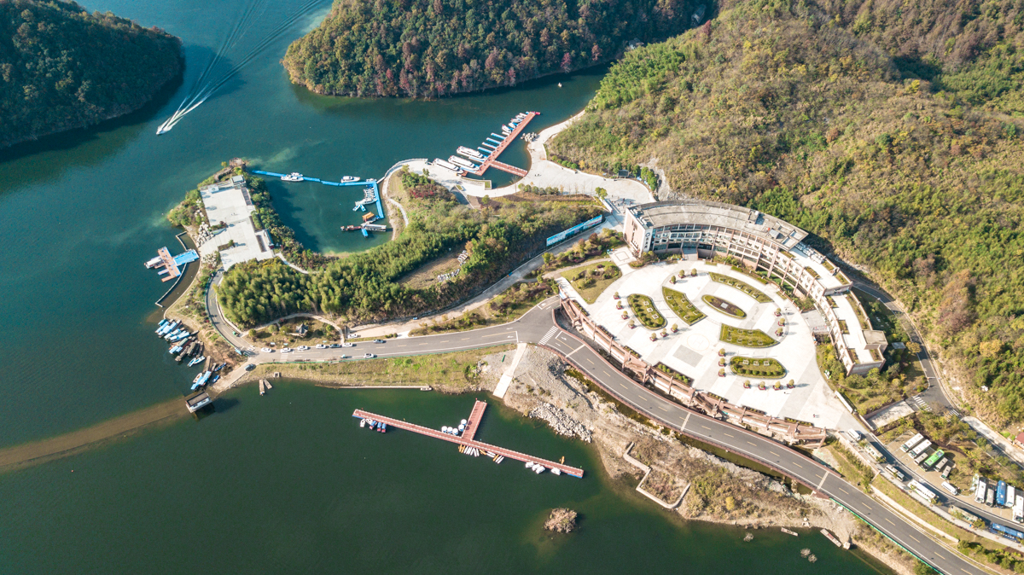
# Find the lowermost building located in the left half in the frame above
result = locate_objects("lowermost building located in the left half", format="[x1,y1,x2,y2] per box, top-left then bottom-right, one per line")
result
[179,387,215,419]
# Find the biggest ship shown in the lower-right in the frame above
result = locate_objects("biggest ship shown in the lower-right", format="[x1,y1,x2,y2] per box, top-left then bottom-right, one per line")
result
[818,528,841,549]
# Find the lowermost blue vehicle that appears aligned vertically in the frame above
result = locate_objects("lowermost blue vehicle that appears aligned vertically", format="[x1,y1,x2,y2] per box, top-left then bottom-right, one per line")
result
[992,480,1006,510]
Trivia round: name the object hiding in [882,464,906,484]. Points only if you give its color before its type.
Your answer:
white bus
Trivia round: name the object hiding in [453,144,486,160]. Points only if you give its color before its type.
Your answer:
white boat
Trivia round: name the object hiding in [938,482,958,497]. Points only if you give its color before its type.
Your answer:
white vehicle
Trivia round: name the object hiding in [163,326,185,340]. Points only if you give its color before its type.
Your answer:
white boat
